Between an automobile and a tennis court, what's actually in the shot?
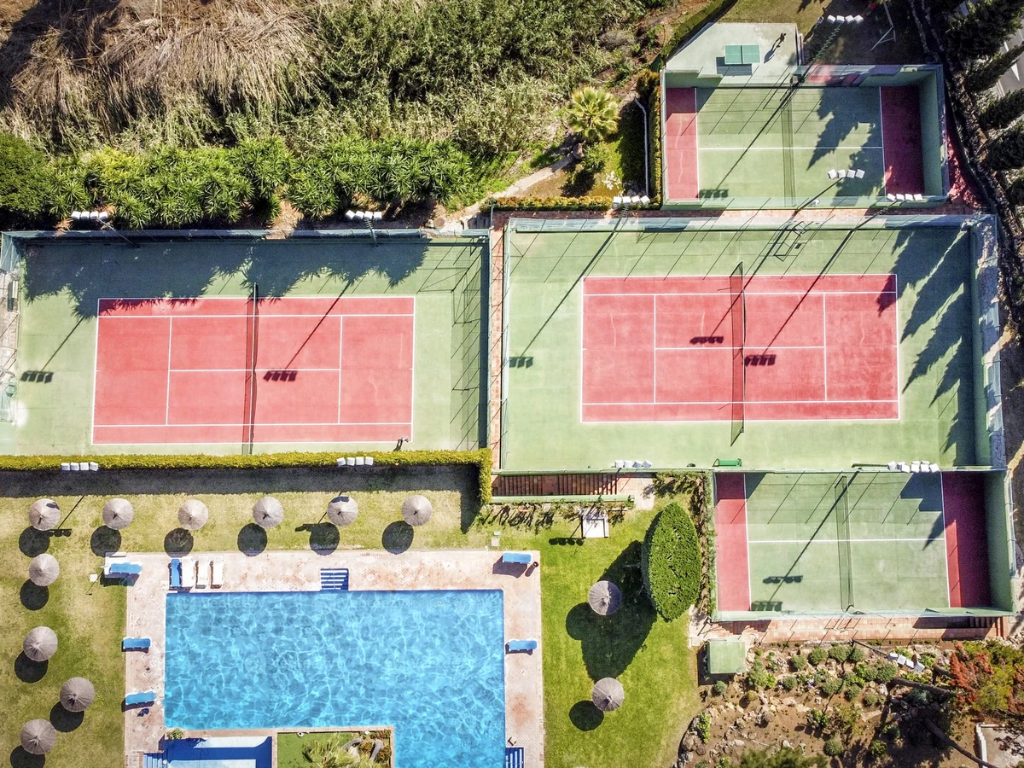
tennis court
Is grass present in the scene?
Yes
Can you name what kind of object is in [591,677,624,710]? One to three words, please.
umbrella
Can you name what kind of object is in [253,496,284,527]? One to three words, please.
umbrella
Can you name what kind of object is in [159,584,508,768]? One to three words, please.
swimming pool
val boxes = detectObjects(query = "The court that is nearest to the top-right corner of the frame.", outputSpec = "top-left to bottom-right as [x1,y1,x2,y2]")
[664,81,927,211]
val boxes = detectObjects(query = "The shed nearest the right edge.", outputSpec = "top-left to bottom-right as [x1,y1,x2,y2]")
[705,639,746,674]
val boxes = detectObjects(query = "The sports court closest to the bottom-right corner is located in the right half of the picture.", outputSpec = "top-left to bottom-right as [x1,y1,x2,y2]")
[697,469,996,614]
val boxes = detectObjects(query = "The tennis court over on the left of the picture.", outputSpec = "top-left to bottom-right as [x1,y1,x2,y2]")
[0,243,489,456]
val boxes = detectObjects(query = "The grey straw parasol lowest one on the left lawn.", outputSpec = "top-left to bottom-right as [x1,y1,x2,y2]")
[20,717,58,755]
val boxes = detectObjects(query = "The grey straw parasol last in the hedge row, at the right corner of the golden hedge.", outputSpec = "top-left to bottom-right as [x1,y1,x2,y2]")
[402,495,433,526]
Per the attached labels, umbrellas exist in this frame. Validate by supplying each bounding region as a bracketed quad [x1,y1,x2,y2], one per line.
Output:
[327,495,358,526]
[178,498,210,529]
[23,625,60,661]
[591,677,624,710]
[29,553,61,585]
[588,580,621,614]
[402,495,433,526]
[253,496,284,527]
[103,497,135,529]
[32,498,63,530]
[20,717,58,755]
[60,675,96,712]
